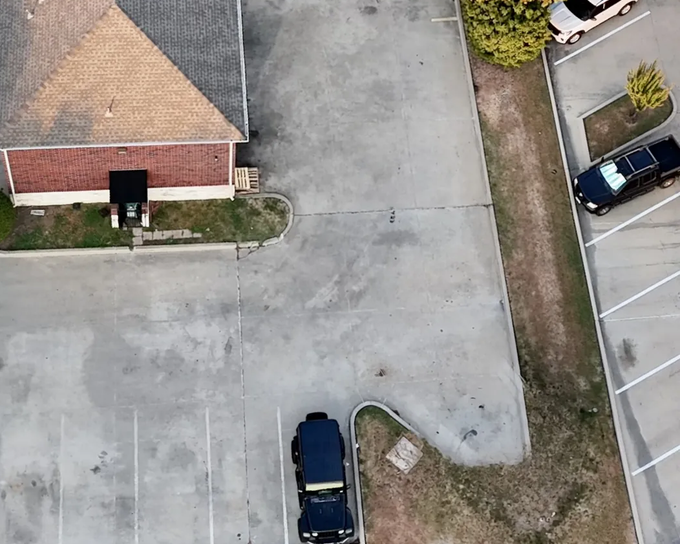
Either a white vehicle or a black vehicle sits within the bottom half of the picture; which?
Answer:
black vehicle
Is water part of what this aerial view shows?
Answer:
No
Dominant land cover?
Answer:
paved ground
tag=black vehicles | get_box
[567,131,680,216]
[291,409,352,542]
